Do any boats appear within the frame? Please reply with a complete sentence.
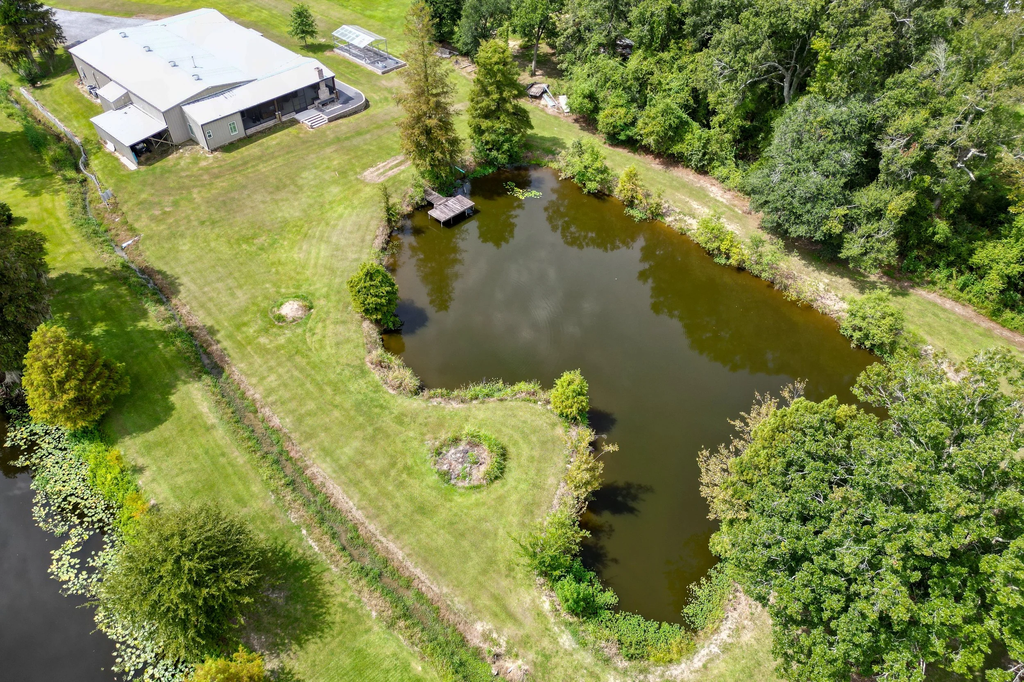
No, I can't see a single boat in this photo.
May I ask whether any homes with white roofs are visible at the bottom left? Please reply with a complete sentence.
No, I see no home with a white roof at the bottom left.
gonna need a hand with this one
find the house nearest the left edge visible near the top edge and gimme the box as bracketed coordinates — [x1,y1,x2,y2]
[65,7,339,166]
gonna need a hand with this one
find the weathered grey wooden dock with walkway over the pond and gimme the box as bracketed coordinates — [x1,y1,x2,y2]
[411,185,475,230]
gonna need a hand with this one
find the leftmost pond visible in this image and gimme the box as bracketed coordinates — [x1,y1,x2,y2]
[0,399,187,682]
